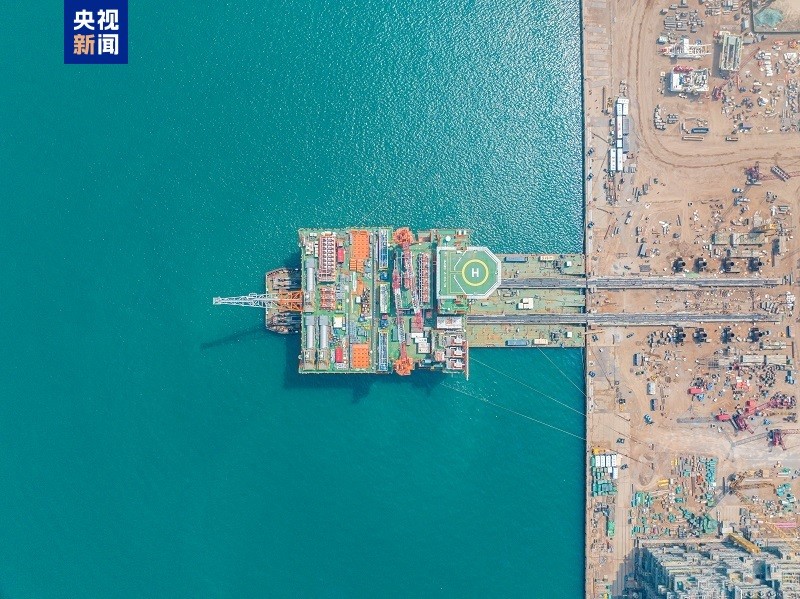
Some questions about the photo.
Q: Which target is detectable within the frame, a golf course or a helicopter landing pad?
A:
helicopter landing pad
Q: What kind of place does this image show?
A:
port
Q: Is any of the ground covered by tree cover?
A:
No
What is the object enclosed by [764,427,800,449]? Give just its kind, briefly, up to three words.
crane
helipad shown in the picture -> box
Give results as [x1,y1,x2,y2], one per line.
[437,244,501,302]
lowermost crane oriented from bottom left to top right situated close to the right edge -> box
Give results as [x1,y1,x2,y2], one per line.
[726,387,790,434]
